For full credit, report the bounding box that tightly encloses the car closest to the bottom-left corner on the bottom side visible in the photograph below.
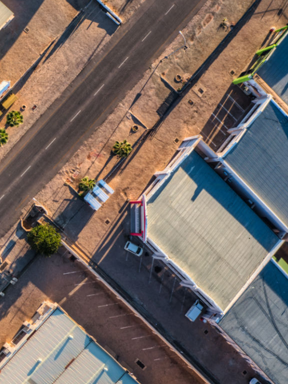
[121,239,145,257]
